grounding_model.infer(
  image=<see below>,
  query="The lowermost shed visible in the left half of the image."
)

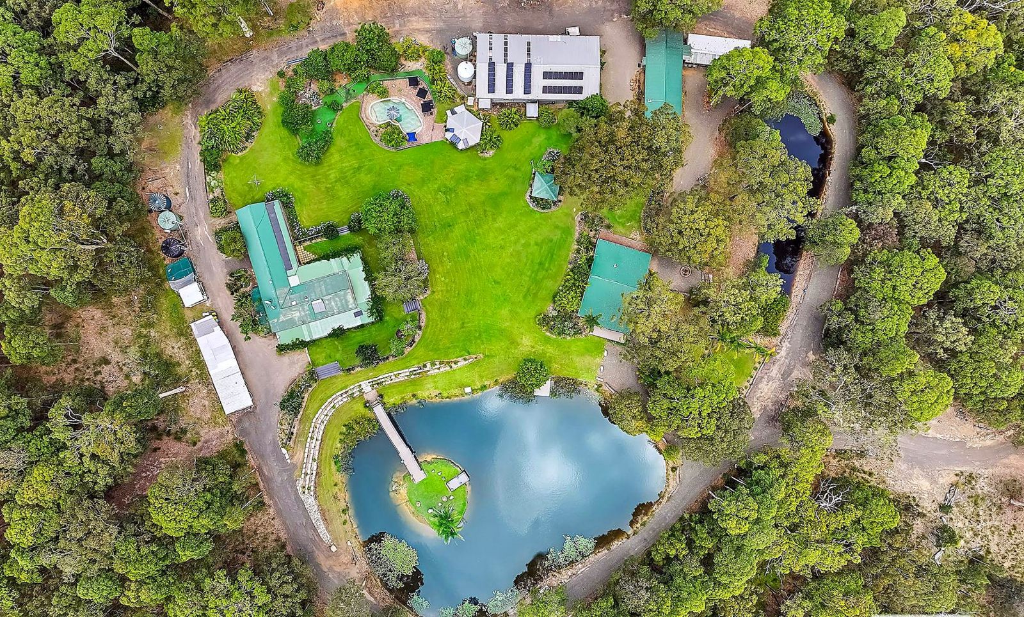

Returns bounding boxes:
[190,315,256,415]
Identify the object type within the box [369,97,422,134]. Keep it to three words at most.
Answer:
swimming pool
